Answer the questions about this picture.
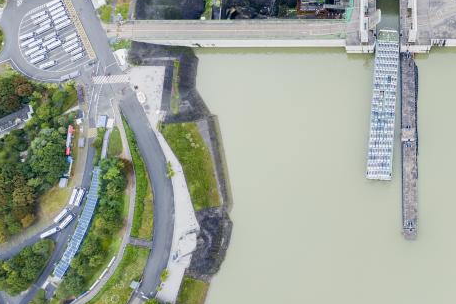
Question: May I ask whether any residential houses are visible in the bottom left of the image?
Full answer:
Yes, a residential house appears in the bottom left of the image.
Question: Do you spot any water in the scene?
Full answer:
Yes, the picture does contain water.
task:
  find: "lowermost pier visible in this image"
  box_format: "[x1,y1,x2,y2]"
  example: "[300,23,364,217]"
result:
[402,54,417,240]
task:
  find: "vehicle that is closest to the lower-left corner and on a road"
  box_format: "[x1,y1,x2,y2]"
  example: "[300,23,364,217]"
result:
[41,225,59,239]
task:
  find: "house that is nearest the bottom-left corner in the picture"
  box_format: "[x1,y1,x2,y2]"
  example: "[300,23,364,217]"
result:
[35,273,63,299]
